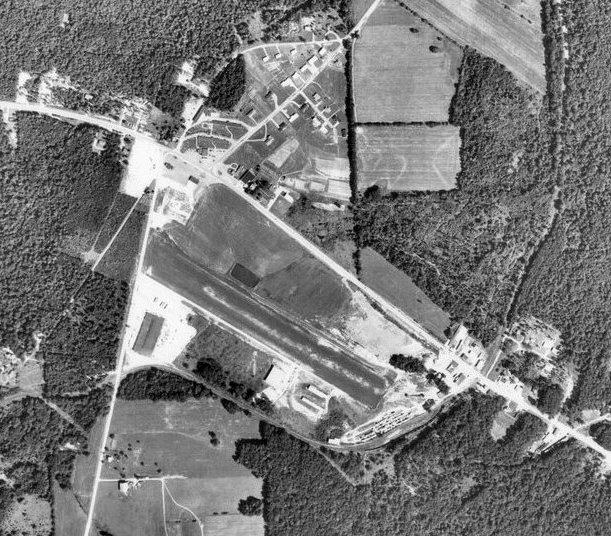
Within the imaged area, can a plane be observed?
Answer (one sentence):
No, there's no plane here.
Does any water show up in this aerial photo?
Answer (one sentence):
No, there is no water in the image.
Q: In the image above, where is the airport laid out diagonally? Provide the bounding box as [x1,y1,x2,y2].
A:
[144,230,386,406]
